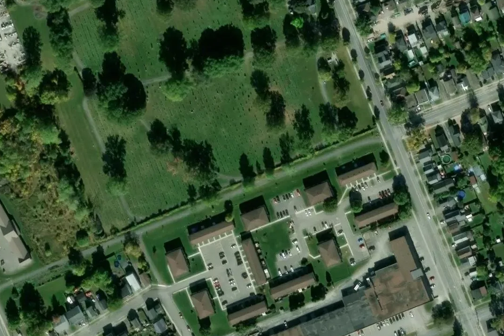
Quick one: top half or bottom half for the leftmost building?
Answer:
bottom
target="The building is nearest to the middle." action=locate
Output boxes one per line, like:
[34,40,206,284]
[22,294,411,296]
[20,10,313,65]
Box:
[239,205,271,232]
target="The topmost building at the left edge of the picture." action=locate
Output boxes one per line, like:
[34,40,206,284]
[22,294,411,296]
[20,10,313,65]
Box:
[0,208,32,265]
